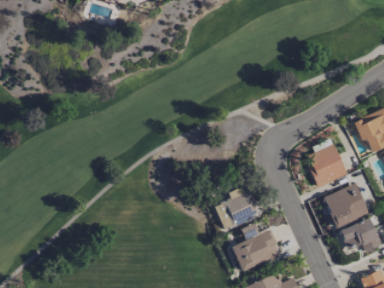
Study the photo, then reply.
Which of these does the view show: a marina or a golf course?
golf course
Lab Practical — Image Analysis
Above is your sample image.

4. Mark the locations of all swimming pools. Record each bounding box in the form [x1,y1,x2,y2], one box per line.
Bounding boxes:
[89,4,111,18]
[352,132,368,153]
[374,160,384,178]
